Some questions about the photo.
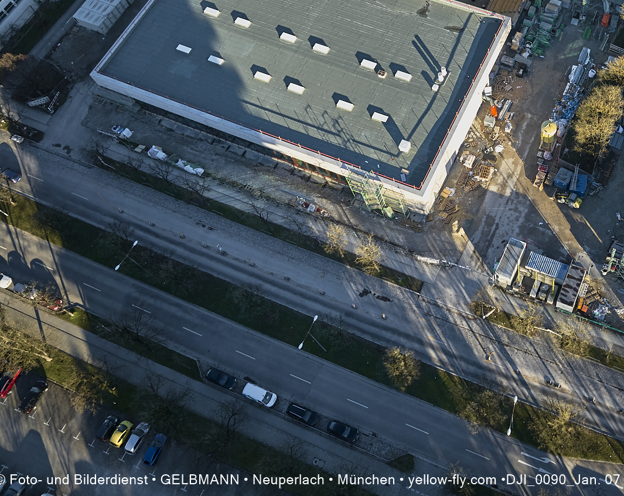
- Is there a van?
Yes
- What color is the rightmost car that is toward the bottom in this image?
black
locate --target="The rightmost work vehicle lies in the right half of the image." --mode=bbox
[544,190,583,214]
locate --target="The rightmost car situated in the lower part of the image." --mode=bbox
[324,419,363,444]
